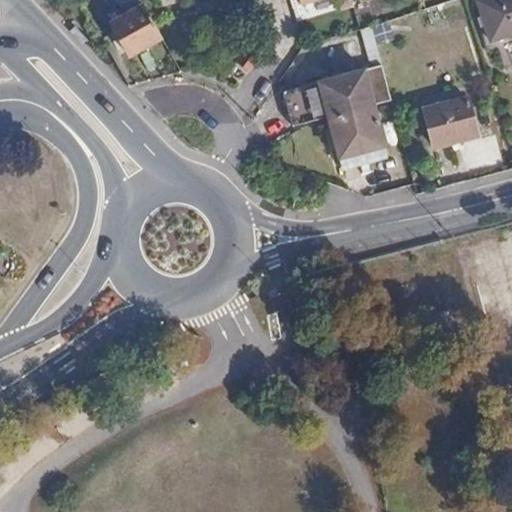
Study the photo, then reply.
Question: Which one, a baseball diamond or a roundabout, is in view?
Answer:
roundabout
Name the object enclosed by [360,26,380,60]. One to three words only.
shed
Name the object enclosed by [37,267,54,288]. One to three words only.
car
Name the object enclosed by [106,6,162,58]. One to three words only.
house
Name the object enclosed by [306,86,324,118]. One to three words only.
building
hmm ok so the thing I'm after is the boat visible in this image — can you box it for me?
[383,120,398,148]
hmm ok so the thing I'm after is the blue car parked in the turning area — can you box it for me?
[198,110,219,128]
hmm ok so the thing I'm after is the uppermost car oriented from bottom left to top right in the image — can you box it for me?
[254,78,272,102]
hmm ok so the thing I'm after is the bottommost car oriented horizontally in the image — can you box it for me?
[368,172,390,184]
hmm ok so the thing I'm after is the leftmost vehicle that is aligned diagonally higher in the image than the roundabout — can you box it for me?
[96,94,115,114]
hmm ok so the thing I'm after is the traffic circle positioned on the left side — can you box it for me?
[98,161,257,322]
